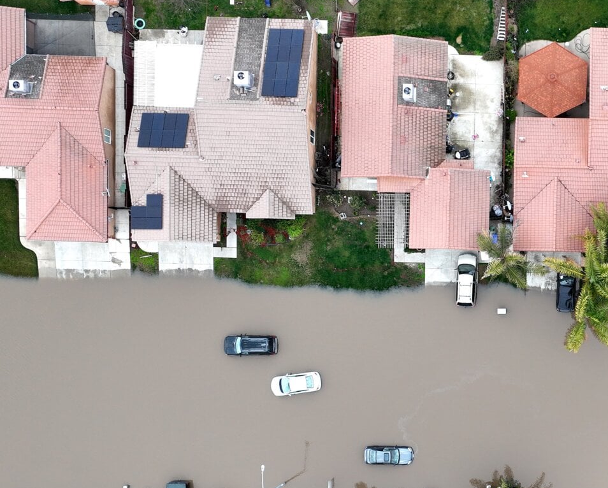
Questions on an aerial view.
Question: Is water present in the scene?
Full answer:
Yes, there's water in this view.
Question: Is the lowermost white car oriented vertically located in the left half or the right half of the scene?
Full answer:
It is on the right.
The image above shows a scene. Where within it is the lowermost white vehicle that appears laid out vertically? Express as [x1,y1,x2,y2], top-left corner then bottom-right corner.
[454,254,479,307]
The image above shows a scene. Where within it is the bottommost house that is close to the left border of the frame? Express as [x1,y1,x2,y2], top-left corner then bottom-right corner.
[0,4,117,243]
